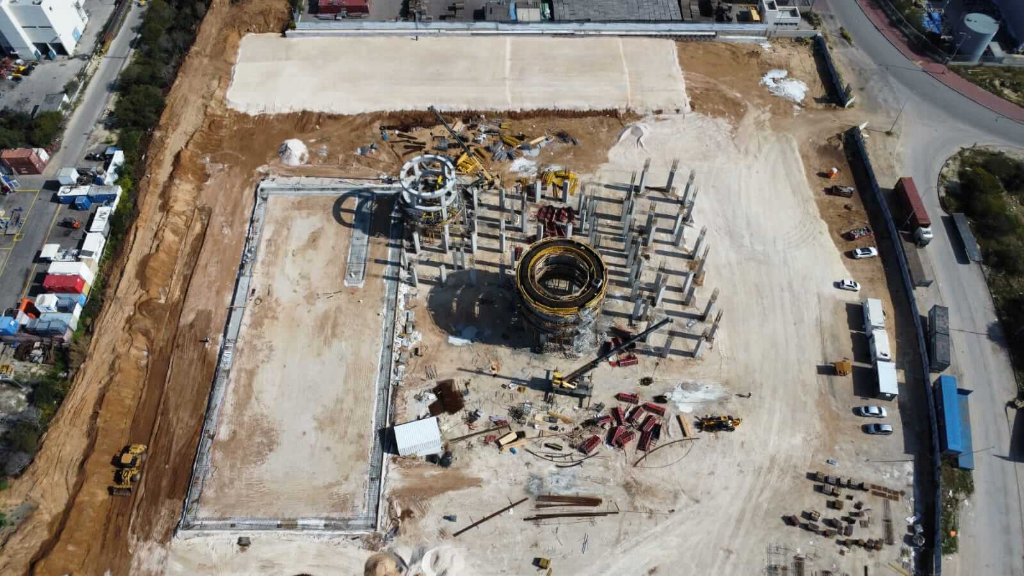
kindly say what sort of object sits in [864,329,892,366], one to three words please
building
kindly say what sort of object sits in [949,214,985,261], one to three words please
trailer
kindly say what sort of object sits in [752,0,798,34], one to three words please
building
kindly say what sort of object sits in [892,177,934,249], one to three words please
truck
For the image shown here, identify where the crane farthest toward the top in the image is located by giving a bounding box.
[424,105,519,203]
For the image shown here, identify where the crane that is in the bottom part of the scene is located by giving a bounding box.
[542,319,677,407]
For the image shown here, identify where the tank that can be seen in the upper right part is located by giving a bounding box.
[939,9,1003,68]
